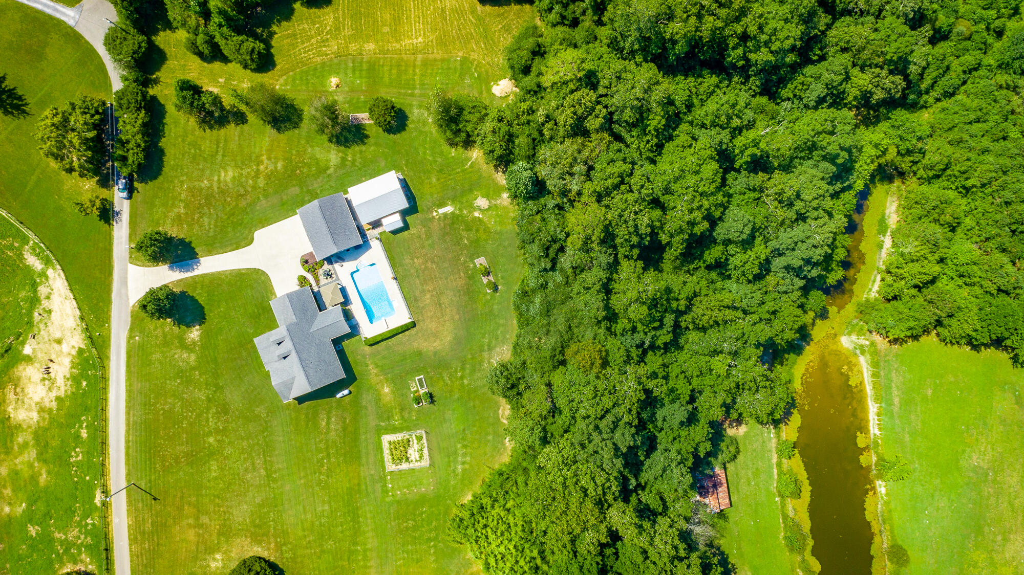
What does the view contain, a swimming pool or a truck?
swimming pool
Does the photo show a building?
Yes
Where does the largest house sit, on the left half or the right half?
left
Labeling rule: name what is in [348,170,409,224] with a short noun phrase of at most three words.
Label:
barn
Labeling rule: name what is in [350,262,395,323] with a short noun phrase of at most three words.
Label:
swimming pool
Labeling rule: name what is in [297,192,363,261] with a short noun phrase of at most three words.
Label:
building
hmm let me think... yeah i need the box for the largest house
[253,285,352,403]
